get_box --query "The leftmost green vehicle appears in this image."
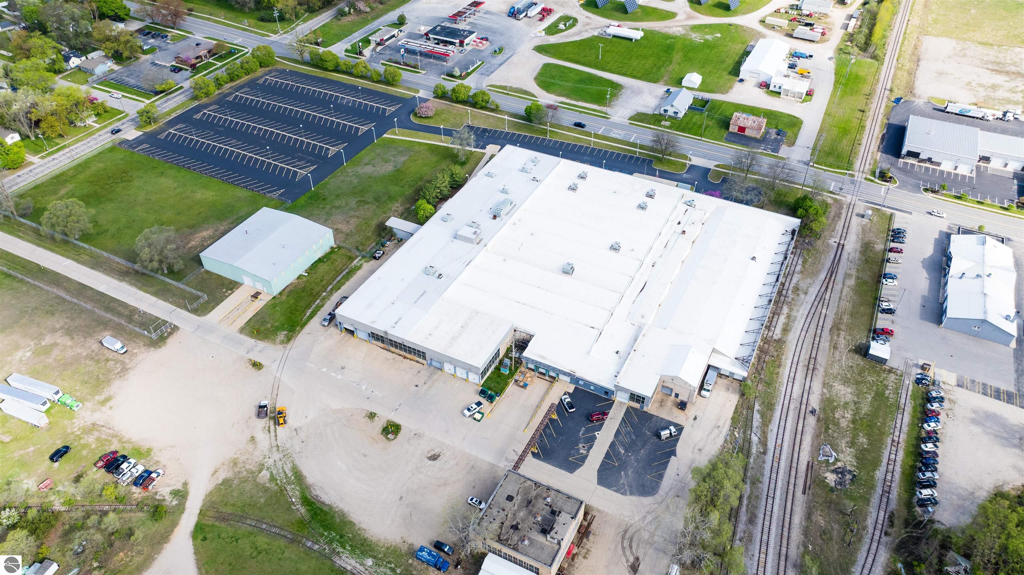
[55,393,84,411]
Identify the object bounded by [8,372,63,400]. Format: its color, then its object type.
white trailer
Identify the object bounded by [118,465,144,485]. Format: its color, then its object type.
white vehicle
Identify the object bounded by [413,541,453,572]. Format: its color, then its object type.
blue truck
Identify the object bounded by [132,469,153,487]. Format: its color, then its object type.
blue car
